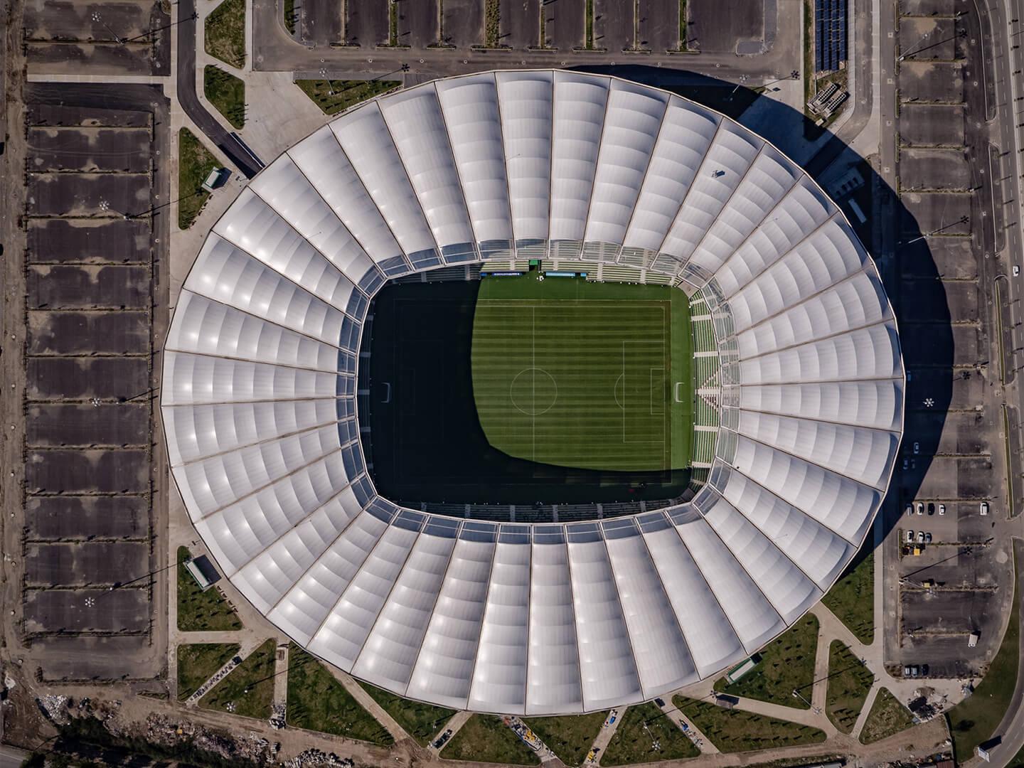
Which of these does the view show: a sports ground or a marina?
sports ground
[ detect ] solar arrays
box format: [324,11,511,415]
[830,0,839,70]
[815,0,823,70]
[838,0,846,60]
[823,0,830,70]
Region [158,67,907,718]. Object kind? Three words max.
stadium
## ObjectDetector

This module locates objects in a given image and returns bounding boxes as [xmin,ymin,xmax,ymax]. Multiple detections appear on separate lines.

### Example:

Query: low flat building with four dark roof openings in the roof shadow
[826,173,864,204]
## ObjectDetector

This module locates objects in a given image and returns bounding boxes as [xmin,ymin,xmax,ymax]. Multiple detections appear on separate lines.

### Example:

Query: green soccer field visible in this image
[395,300,671,484]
